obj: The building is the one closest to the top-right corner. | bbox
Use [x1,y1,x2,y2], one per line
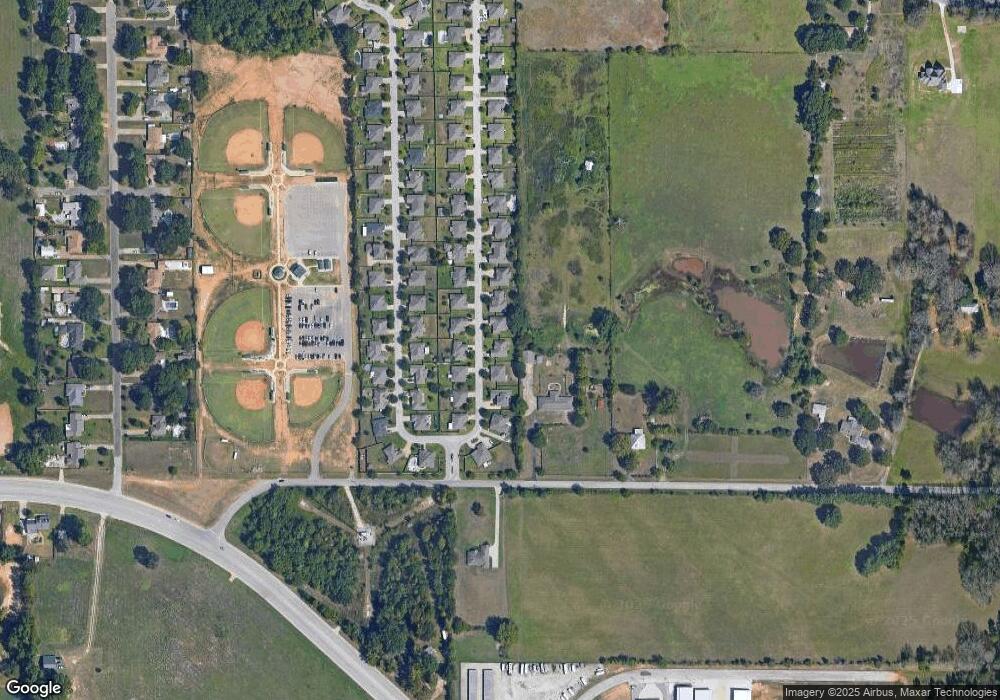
[918,68,945,90]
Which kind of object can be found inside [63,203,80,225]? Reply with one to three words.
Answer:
house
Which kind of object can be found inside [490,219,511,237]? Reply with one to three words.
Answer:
house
